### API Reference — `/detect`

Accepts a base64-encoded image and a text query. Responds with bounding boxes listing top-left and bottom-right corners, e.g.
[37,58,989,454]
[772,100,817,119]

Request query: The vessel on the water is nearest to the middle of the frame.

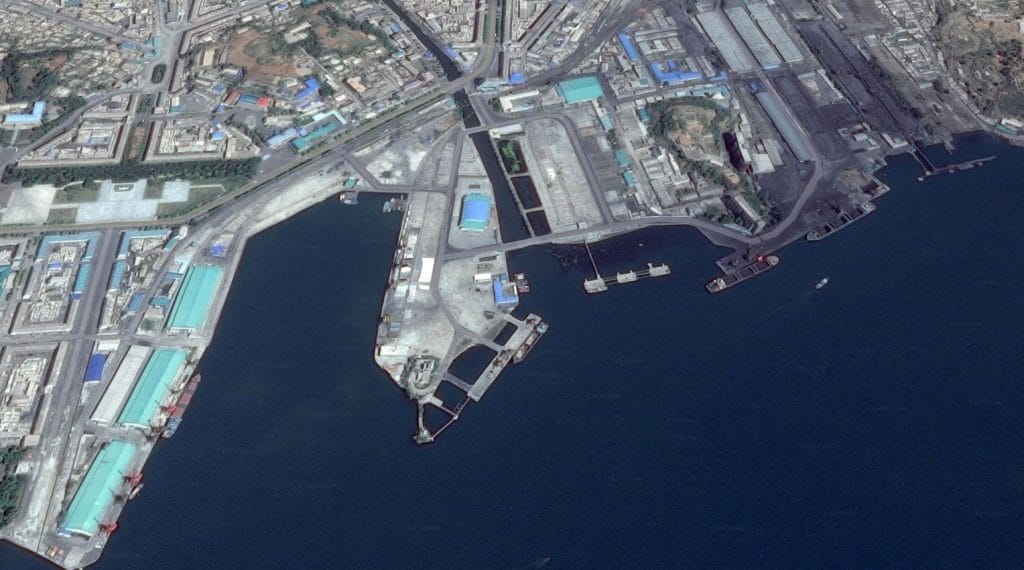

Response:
[516,275,529,293]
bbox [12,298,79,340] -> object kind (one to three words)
building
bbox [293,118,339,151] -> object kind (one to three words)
building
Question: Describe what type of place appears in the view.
port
